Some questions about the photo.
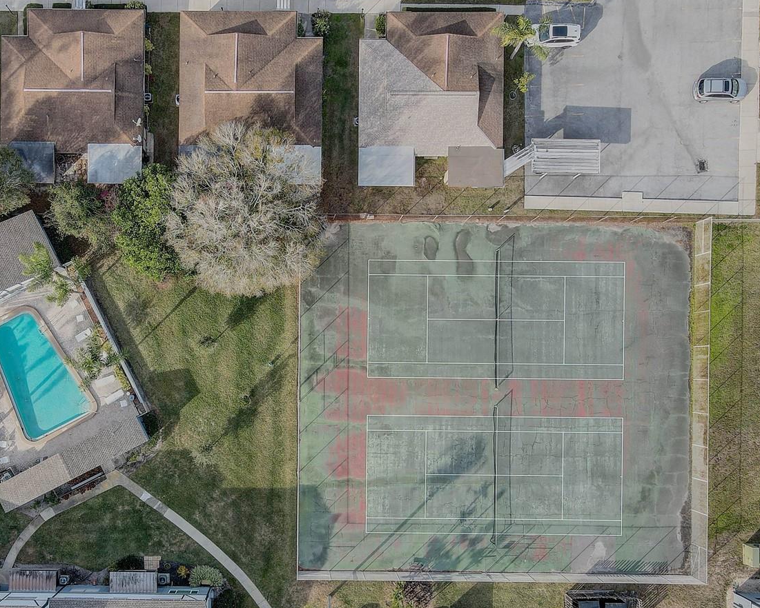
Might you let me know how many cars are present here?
two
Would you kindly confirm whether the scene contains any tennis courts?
Yes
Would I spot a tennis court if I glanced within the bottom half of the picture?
Yes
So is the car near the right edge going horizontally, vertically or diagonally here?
horizontally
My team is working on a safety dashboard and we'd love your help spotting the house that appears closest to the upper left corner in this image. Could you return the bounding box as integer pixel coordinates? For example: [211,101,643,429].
[0,8,147,153]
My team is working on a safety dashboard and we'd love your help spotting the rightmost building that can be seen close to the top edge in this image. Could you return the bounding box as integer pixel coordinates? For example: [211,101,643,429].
[358,11,505,156]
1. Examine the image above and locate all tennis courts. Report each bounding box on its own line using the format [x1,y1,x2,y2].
[299,223,691,397]
[299,397,691,574]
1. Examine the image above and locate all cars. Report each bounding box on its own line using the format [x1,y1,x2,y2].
[692,77,744,102]
[529,22,583,49]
